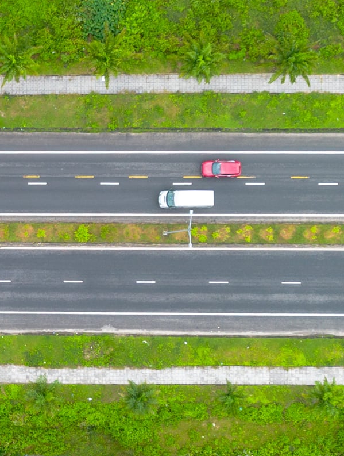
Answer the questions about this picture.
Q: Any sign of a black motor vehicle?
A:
No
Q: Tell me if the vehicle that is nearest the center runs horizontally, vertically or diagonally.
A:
horizontally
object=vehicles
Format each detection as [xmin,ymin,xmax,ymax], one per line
[156,189,216,210]
[201,160,240,178]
